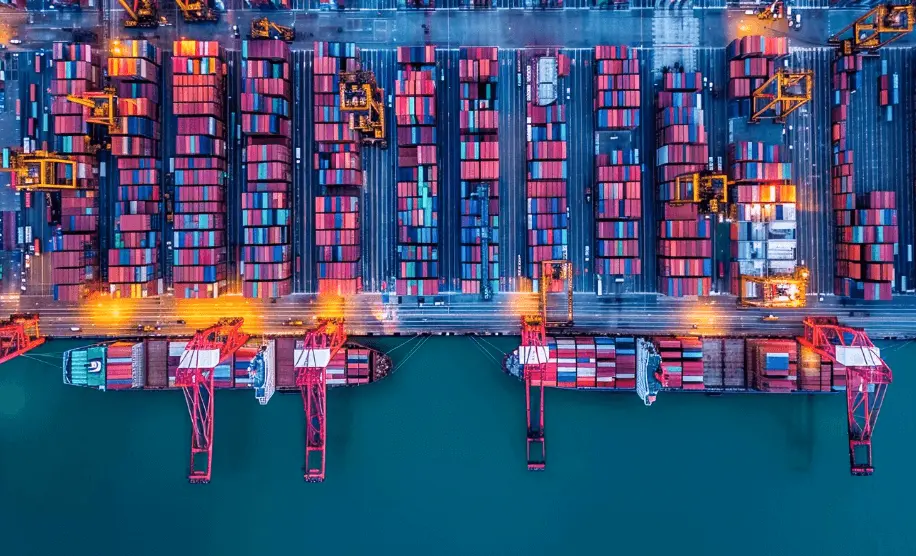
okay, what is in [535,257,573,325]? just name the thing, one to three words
container crane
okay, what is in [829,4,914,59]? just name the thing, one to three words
container crane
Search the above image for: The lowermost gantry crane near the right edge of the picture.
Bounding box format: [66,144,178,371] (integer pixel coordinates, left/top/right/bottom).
[796,313,900,478]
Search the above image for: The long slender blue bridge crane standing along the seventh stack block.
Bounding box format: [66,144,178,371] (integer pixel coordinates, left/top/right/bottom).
[475,186,494,297]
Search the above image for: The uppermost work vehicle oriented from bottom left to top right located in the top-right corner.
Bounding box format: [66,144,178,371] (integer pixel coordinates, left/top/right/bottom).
[754,0,784,25]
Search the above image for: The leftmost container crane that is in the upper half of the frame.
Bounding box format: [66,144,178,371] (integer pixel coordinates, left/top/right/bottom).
[0,152,75,192]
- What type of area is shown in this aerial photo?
port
